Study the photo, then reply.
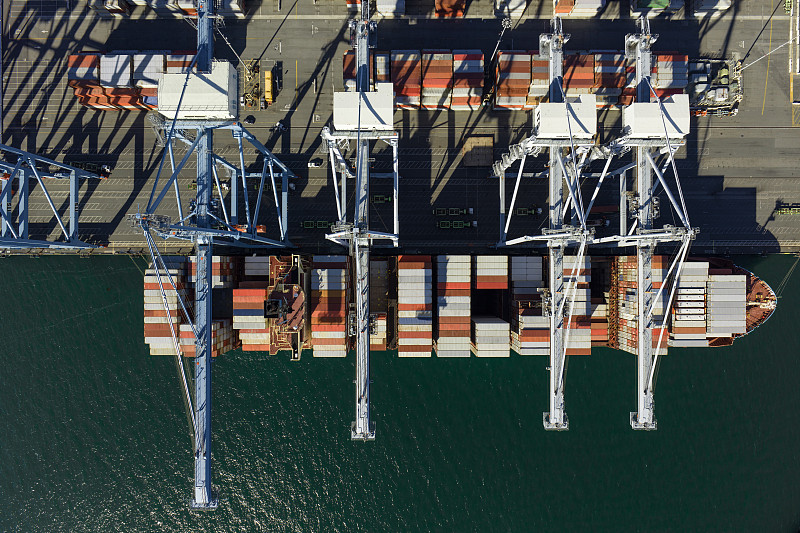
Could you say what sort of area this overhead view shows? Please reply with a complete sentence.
This image shows a port.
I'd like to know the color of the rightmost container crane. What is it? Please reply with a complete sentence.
The rightmost container crane is white.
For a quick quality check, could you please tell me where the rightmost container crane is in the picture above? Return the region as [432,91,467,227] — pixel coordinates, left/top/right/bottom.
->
[562,8,709,428]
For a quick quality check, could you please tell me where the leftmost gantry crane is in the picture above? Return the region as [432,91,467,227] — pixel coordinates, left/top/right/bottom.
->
[0,168,38,248]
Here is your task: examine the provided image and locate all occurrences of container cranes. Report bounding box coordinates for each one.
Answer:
[109,0,305,506]
[0,143,110,248]
[562,8,709,428]
[0,168,38,248]
[484,8,607,428]
[320,0,406,438]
